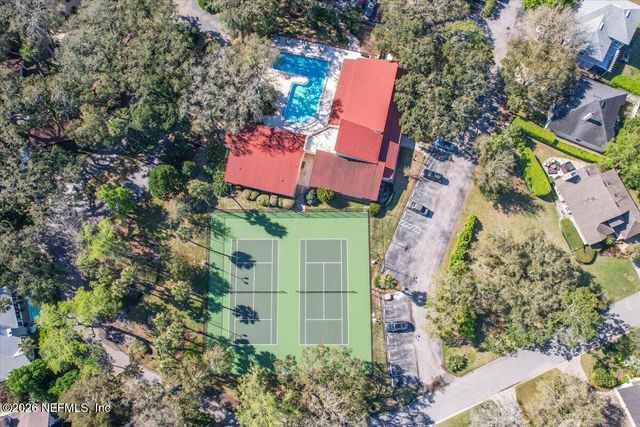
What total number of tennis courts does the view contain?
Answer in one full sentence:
The photo contains 2 tennis courts.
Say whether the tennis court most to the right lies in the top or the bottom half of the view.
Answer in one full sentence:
You can find the tennis court most to the right in the bottom half.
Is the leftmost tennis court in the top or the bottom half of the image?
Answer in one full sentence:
Seen from above, the leftmost tennis court lies in the bottom half of the view.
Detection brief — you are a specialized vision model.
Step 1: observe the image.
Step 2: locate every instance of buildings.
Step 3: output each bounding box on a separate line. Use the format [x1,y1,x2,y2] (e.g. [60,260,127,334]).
[609,375,640,427]
[310,59,411,201]
[550,163,640,244]
[564,0,640,81]
[0,408,56,427]
[0,289,38,381]
[225,119,308,197]
[544,78,628,153]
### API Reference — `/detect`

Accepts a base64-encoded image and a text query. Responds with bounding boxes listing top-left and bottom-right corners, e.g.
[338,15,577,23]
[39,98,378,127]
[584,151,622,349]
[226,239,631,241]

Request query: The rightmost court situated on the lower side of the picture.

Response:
[288,212,371,376]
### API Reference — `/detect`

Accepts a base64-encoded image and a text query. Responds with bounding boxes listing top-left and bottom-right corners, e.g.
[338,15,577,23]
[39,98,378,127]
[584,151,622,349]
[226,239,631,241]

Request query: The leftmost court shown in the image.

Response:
[206,212,289,376]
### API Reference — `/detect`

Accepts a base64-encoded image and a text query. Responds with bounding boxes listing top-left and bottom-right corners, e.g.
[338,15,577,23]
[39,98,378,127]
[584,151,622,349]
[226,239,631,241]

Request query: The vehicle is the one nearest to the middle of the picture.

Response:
[409,199,434,216]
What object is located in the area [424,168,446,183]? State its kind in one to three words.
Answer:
car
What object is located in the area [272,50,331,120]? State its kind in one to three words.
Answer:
swimming pool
